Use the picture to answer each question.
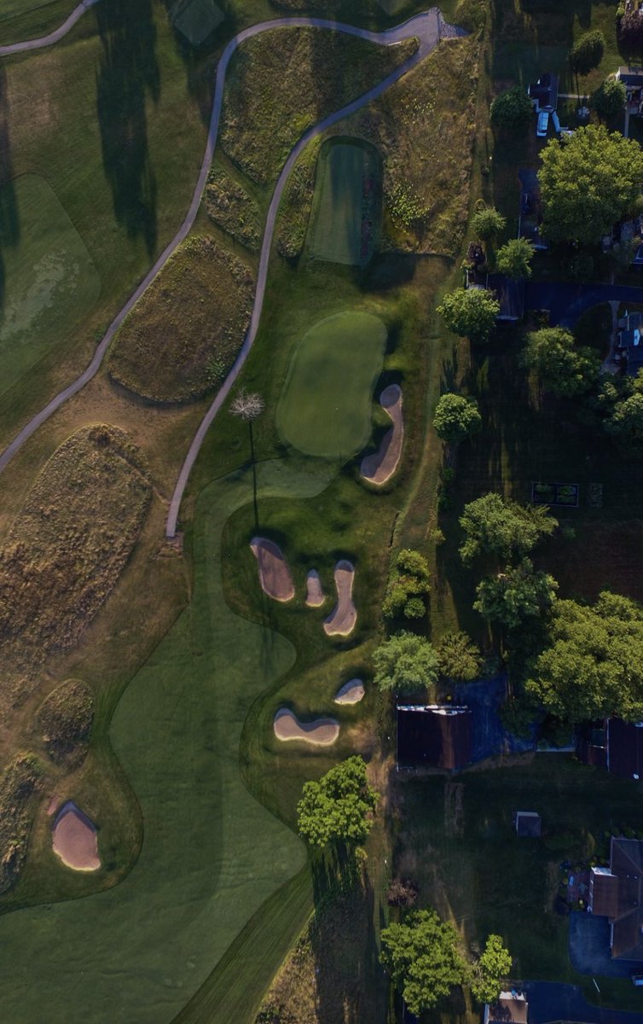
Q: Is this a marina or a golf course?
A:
golf course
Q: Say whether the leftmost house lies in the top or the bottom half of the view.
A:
bottom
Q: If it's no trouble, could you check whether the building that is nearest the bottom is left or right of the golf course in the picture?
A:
right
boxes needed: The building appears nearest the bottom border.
[484,991,529,1024]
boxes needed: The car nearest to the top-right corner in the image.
[537,109,551,135]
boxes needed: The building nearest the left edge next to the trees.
[396,705,472,775]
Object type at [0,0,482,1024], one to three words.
golf course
